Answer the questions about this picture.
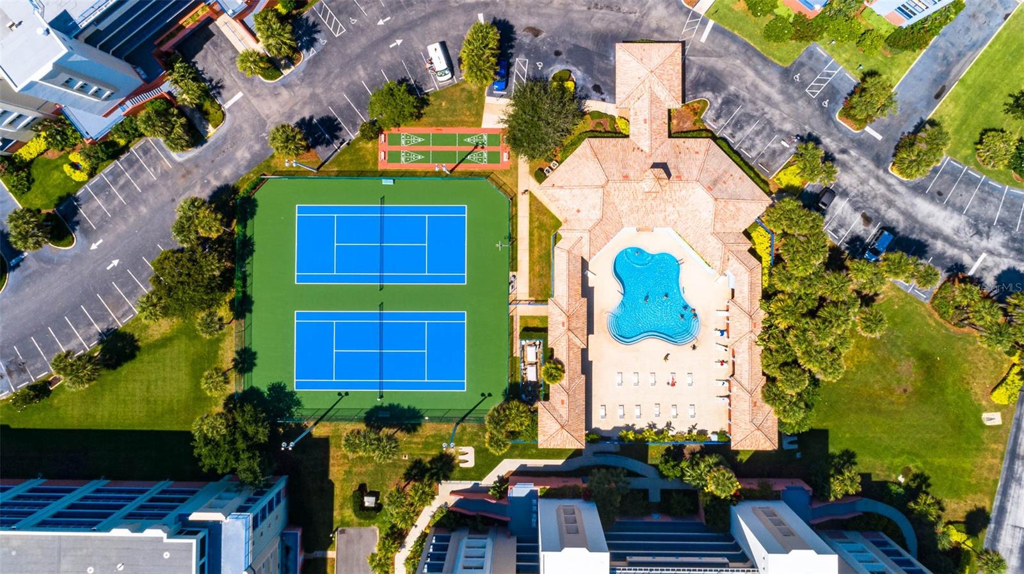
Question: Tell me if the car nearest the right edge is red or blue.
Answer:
blue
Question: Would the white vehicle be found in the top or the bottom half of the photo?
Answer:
top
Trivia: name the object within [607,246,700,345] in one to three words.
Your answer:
swimming pool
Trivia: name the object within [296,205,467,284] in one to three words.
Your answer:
tennis court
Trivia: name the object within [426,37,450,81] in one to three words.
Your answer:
vehicle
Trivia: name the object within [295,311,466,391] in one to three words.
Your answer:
tennis court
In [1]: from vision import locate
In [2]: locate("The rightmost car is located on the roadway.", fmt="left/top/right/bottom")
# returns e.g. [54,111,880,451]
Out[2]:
[865,230,898,263]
